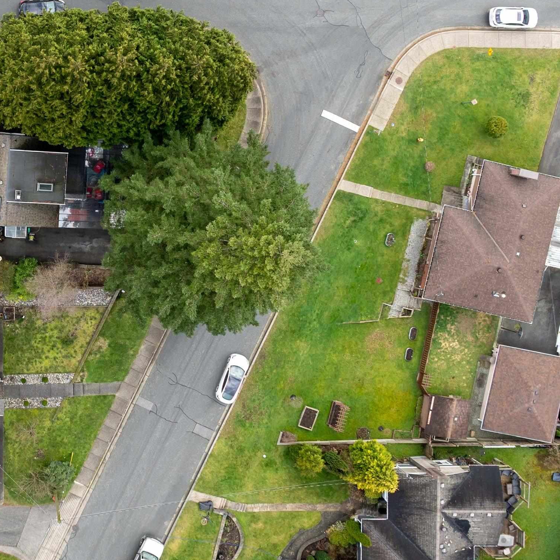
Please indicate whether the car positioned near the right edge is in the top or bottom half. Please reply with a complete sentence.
It is in the top half that the car positioned near the right edge appears.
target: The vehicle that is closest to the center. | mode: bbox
[214,352,249,404]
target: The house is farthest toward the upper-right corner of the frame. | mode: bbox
[414,159,560,324]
